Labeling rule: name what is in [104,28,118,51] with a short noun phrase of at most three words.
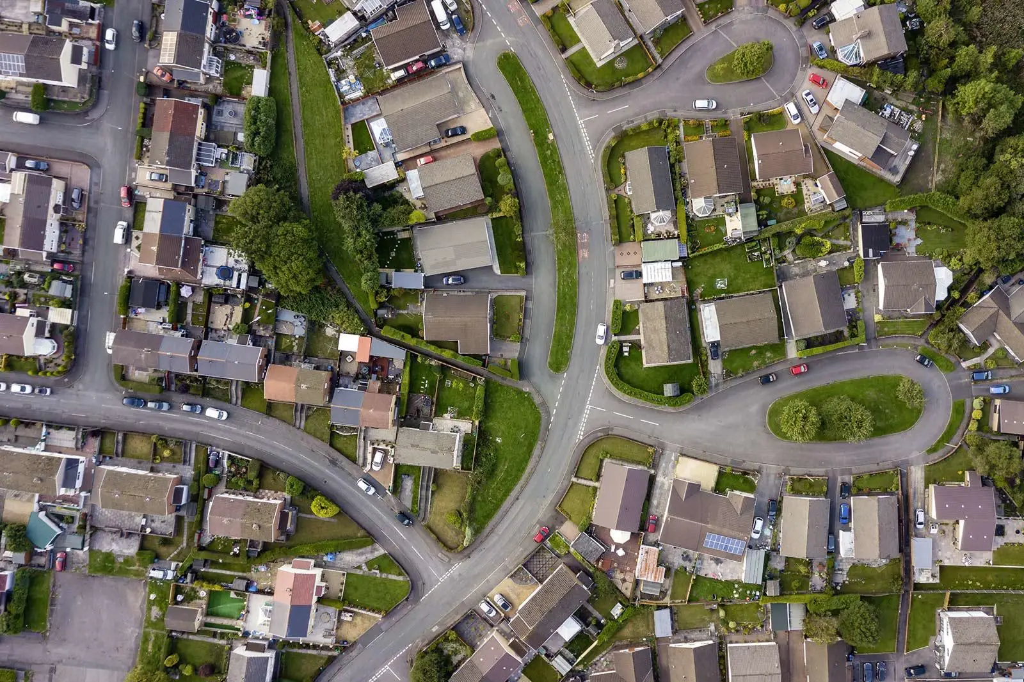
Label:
car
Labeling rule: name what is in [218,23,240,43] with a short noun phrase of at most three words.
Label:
trampoline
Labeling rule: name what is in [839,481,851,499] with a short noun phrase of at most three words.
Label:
vehicle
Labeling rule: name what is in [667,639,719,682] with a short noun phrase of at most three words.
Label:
house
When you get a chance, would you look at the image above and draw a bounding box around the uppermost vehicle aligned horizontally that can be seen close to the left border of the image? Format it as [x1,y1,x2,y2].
[12,110,42,125]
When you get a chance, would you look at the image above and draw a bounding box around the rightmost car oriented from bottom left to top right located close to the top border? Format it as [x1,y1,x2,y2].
[810,12,833,31]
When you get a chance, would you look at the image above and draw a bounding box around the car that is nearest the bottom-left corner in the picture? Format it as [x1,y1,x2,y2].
[54,550,67,572]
